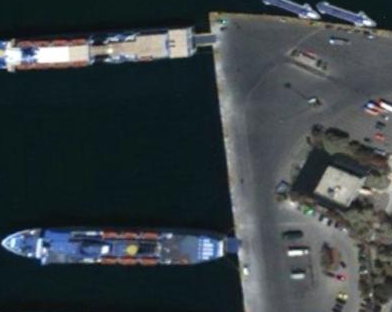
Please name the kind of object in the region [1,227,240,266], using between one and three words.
ship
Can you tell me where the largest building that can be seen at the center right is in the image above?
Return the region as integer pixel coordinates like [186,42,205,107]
[303,163,366,207]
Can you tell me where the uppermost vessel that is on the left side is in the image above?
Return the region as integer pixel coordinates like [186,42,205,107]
[0,27,215,72]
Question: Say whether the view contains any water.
Yes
